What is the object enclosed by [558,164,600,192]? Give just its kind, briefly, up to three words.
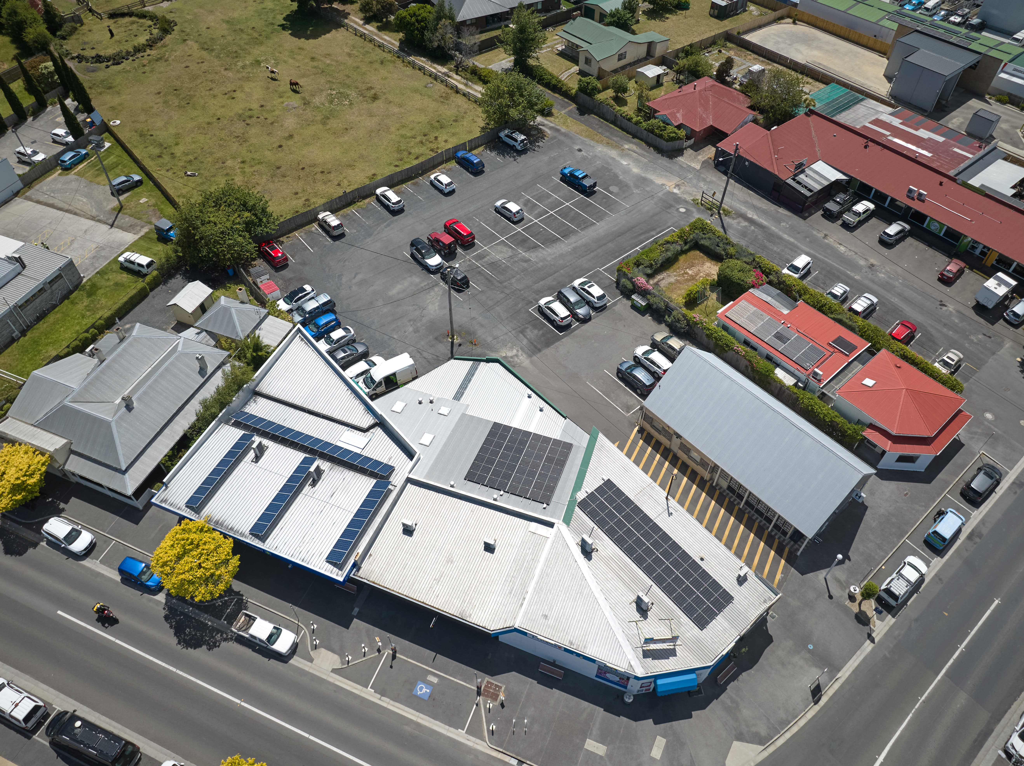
truck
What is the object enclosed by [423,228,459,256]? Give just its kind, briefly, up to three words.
car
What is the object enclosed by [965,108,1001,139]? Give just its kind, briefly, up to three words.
shed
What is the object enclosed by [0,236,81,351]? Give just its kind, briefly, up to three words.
building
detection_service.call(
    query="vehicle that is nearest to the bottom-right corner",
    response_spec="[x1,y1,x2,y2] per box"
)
[994,705,1024,764]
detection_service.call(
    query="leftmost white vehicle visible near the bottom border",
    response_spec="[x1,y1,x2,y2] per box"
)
[0,676,52,736]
